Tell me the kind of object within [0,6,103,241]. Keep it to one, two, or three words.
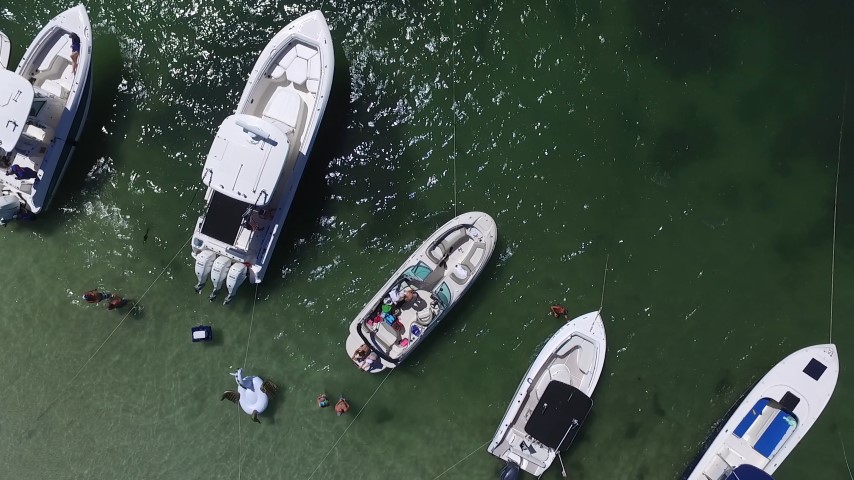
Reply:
boat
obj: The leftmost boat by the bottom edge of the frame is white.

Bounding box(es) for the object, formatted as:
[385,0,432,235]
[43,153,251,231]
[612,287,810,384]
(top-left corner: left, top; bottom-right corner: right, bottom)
[488,312,607,478]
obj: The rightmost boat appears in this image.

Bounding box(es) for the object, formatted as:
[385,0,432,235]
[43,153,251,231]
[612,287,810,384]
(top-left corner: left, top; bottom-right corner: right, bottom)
[659,343,839,480]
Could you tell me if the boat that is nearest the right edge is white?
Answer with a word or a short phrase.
Yes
